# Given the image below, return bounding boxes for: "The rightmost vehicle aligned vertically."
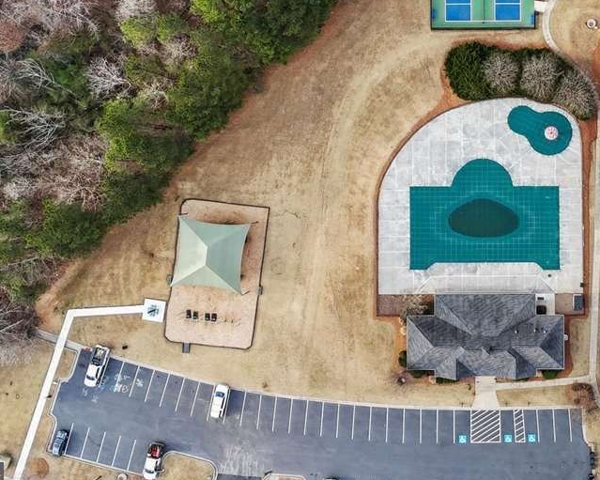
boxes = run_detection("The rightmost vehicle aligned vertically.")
[211,385,230,418]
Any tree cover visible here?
Yes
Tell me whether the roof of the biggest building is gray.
Yes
